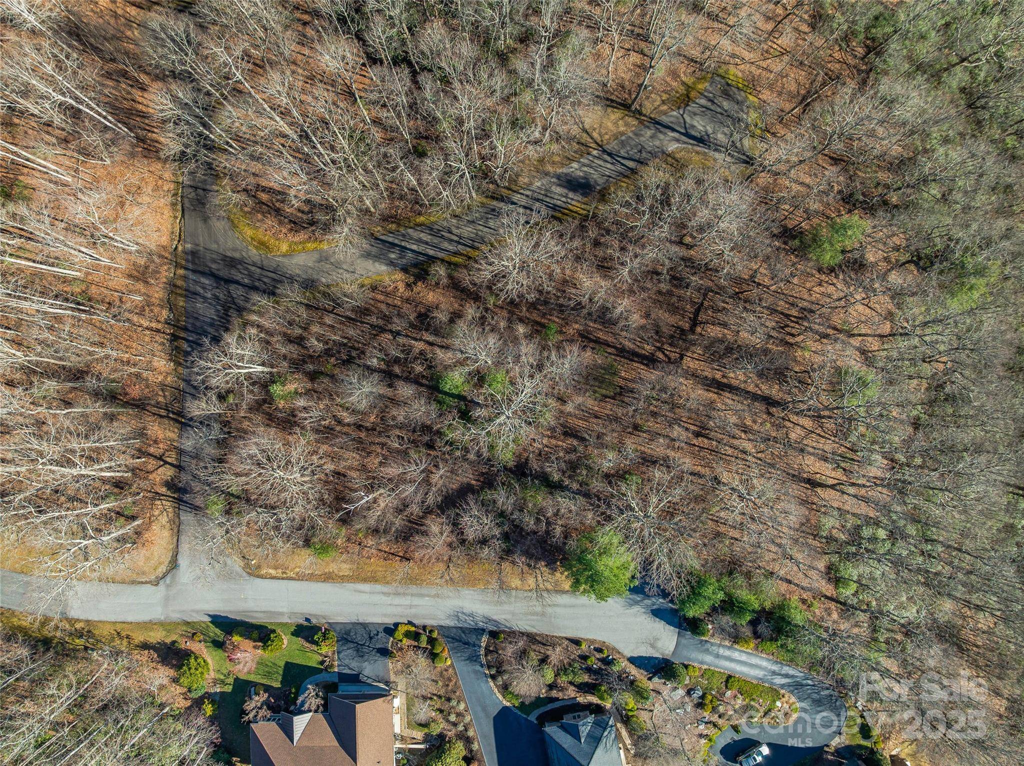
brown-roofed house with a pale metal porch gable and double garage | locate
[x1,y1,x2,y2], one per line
[249,687,394,766]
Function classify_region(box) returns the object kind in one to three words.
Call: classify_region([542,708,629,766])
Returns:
house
